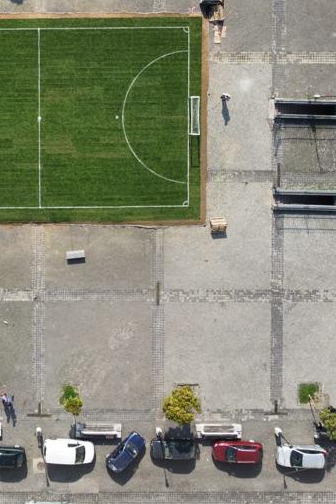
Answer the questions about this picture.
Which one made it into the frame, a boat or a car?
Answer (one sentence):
It is a car that can be seen here.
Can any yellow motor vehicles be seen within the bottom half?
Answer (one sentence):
No, no yellow motor vehicle appears within the bottom half.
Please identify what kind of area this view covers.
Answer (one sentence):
This looks like a sports ground.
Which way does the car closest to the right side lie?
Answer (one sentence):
In this picture, the car closest to the right side lies from side to side.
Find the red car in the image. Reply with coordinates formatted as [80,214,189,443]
[211,437,263,464]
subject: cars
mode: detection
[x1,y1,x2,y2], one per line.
[103,428,146,475]
[147,433,197,460]
[273,441,328,469]
[211,437,263,464]
[0,442,26,469]
[43,436,93,466]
